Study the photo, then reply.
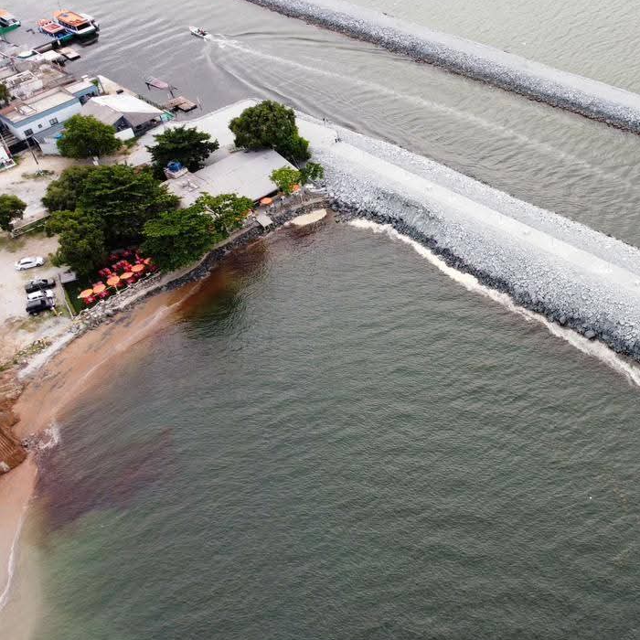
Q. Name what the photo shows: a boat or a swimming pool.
boat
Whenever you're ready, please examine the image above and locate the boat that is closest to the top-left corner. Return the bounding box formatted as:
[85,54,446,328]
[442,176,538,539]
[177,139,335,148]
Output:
[0,17,22,34]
